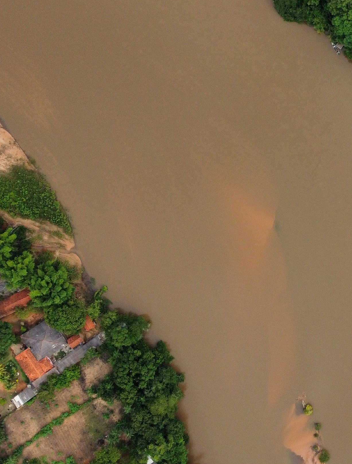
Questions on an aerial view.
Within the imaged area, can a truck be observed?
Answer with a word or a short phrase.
No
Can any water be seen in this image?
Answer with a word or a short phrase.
Yes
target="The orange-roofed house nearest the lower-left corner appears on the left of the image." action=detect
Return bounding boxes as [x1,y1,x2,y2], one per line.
[16,348,55,381]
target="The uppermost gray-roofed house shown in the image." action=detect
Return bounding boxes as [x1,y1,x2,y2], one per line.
[21,321,67,360]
